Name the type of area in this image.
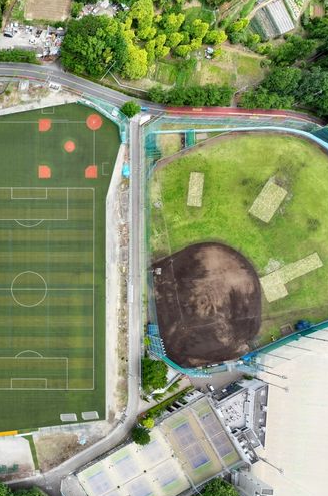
sports ground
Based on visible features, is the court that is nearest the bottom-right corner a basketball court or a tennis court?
tennis court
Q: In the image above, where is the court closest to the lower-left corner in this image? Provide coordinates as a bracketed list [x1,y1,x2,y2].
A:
[79,426,196,496]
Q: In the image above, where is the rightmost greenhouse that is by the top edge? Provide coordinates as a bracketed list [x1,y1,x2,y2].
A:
[266,0,293,35]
